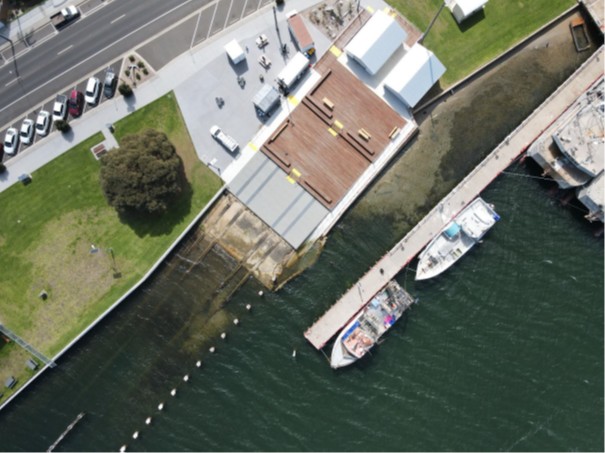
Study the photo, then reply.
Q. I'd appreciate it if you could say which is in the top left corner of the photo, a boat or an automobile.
automobile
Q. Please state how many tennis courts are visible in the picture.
none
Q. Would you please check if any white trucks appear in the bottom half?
No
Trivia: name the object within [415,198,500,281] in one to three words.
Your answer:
boat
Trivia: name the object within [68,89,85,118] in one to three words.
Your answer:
car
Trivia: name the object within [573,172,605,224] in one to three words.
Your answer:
ship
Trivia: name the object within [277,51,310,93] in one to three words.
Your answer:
trailer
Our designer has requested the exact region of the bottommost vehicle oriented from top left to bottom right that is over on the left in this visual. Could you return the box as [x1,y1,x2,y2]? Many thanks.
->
[210,125,239,155]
